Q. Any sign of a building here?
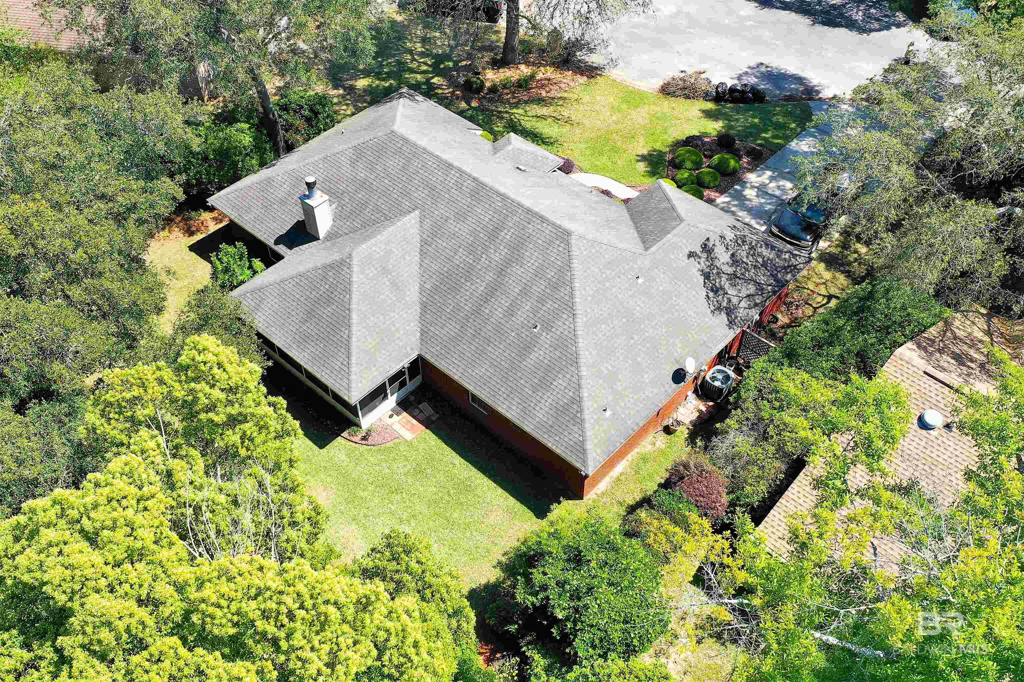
Yes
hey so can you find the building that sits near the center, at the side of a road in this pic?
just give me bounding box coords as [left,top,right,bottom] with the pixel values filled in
[208,83,814,498]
